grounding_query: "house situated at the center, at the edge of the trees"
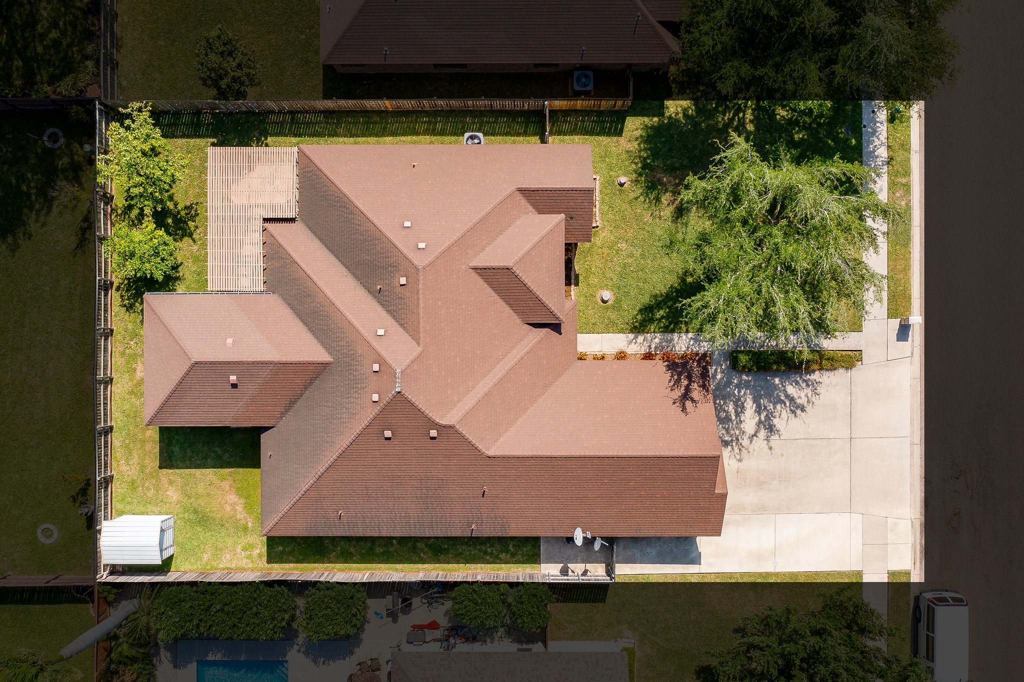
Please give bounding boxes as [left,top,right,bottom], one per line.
[143,142,727,539]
